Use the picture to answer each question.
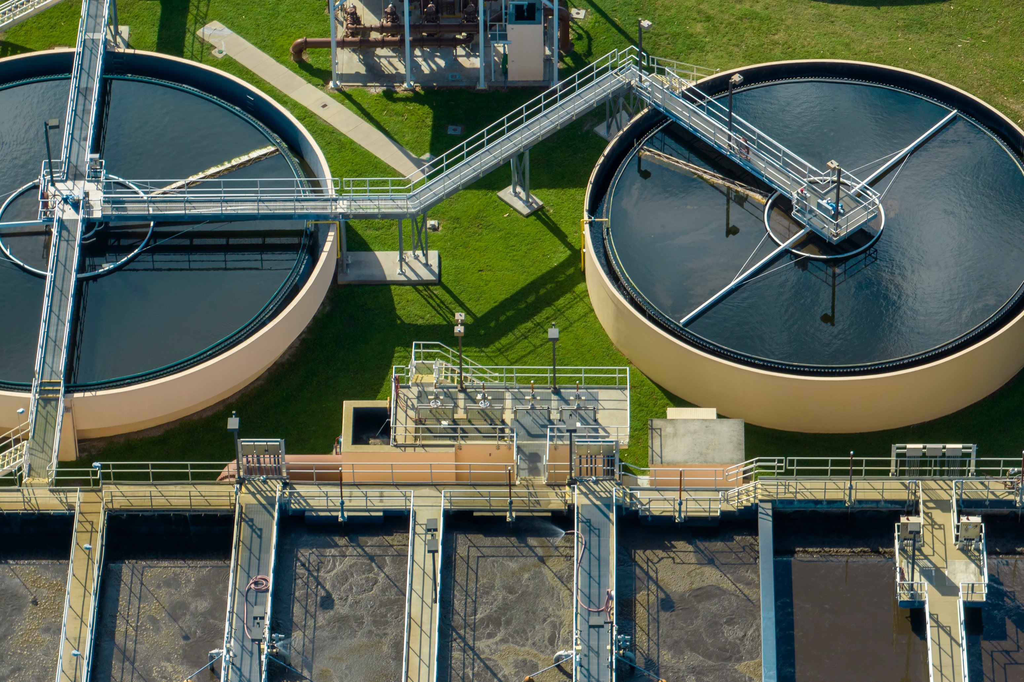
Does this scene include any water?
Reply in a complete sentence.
Yes, some water is visible.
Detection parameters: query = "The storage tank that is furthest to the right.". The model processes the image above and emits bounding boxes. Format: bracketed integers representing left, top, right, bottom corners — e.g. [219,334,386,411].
[584,59,1024,433]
